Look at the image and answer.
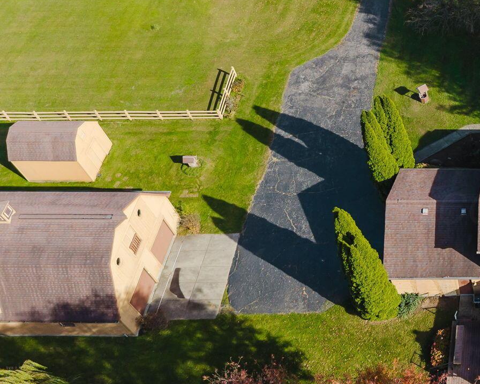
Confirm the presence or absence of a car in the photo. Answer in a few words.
No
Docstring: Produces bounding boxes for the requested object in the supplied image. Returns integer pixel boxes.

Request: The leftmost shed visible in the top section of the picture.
[8,122,111,180]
